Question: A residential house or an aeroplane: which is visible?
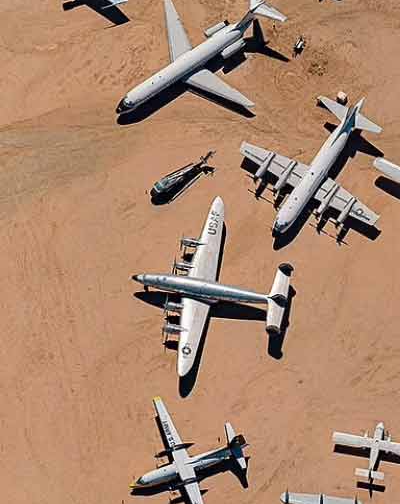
aeroplane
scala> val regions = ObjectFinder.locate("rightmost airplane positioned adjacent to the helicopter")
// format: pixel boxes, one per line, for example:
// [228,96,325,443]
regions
[238,95,382,231]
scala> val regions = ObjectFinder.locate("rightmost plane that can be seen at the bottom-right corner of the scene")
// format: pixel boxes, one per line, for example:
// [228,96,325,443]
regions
[332,424,400,479]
